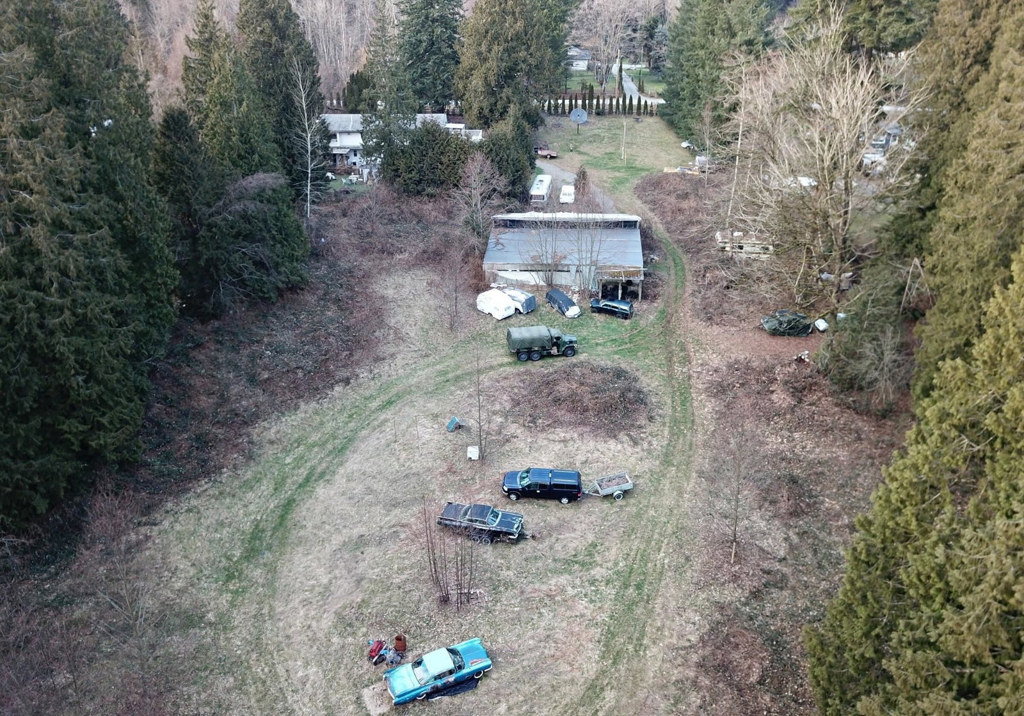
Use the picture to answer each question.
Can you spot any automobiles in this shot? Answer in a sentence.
Yes, an automobile can be made out from above.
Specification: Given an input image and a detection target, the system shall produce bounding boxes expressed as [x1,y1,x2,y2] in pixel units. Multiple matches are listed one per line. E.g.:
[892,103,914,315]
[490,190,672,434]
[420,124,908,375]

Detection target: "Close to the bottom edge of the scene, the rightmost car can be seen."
[393,634,502,707]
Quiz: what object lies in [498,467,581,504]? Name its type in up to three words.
truck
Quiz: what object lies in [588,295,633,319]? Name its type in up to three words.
car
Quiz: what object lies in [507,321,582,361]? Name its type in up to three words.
truck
